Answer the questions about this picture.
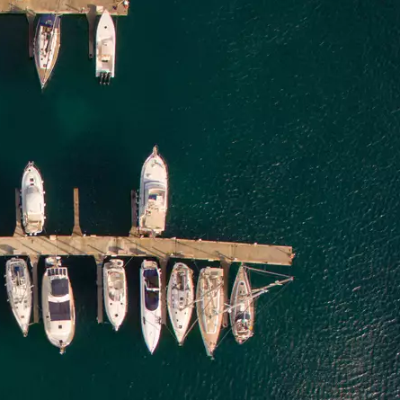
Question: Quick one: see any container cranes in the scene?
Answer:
No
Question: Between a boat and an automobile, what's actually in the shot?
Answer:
boat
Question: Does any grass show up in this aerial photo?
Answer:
No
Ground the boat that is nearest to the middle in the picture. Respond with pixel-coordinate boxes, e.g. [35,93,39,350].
[136,143,169,247]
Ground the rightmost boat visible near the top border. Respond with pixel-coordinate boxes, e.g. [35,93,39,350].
[94,0,116,83]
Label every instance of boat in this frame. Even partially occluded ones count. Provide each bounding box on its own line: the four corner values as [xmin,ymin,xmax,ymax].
[39,256,76,355]
[136,143,169,247]
[108,259,126,268]
[94,0,116,83]
[5,251,35,339]
[42,255,65,266]
[137,261,163,354]
[101,256,128,331]
[19,160,46,244]
[32,0,63,89]
[228,256,293,344]
[195,255,269,357]
[166,256,223,346]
